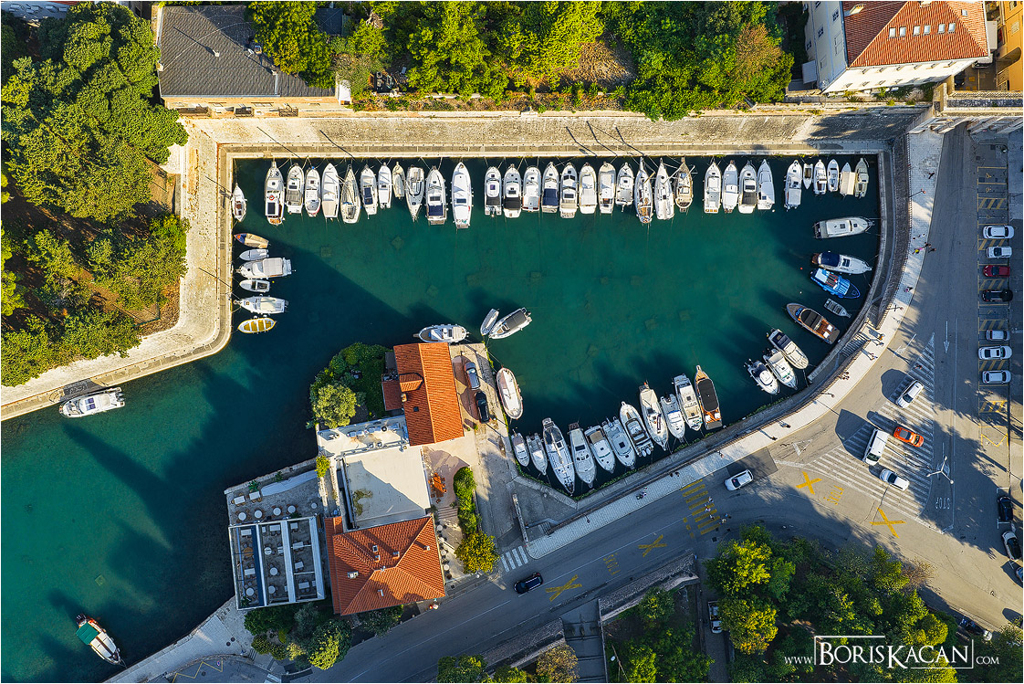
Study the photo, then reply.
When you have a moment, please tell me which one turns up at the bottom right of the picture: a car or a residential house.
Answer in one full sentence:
There is a car at the bottom right of the picture.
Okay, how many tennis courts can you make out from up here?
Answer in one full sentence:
Not a single tennis court can be seen.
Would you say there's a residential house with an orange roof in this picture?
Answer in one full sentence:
Yes, a residential house with an orange roof can be made out from above.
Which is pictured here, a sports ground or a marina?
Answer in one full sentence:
This image shows a marina.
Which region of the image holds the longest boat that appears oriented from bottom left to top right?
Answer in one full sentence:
The longest boat that appears oriented from bottom left to top right appears toward the center of the photo.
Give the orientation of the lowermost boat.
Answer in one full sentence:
Seen from above, the lowermost boat lies at an angle.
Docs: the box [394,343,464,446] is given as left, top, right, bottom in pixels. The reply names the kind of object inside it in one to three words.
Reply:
house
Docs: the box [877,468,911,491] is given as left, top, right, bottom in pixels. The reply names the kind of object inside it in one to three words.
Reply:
car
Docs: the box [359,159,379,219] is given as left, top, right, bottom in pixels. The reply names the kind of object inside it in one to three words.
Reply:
boat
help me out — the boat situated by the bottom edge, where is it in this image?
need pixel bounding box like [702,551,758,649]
[75,616,128,668]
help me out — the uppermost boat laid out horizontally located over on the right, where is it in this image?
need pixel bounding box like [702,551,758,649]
[812,217,880,241]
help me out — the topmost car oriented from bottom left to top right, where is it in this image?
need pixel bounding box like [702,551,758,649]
[892,378,928,410]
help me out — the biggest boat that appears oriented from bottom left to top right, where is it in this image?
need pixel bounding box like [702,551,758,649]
[490,306,531,338]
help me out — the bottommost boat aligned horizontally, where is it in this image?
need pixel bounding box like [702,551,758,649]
[57,388,127,415]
